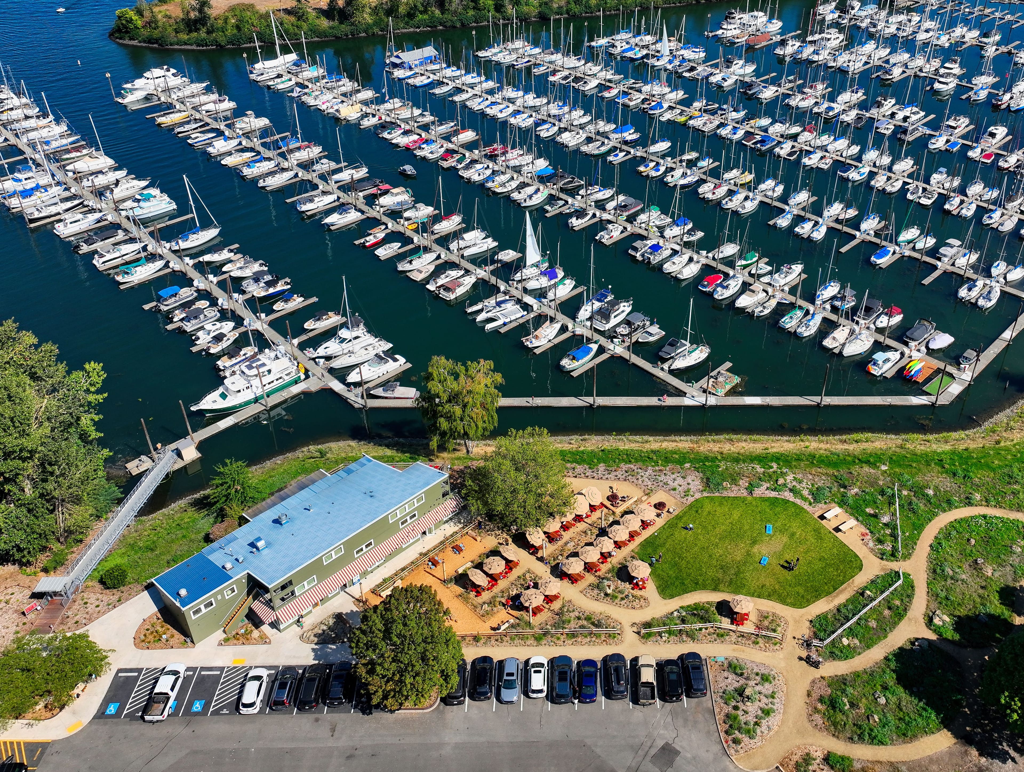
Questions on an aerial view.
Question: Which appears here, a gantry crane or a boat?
boat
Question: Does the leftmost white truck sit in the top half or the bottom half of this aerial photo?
bottom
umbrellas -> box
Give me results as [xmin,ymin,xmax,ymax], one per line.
[499,548,521,571]
[561,560,583,583]
[467,573,489,596]
[540,580,562,605]
[570,501,591,522]
[607,528,628,543]
[629,565,651,588]
[484,559,506,583]
[636,508,657,530]
[526,532,546,554]
[595,540,616,562]
[619,518,640,540]
[578,549,600,572]
[542,520,563,535]
[582,492,602,513]
[521,592,544,616]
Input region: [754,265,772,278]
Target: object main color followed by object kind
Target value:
white boat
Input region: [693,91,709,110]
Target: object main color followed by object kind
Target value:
white boat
